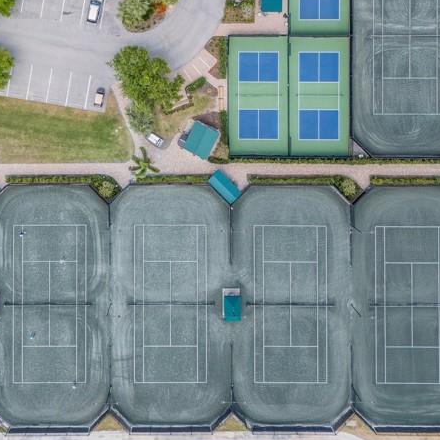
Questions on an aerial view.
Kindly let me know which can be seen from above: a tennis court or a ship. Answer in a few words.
tennis court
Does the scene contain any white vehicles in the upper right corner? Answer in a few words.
No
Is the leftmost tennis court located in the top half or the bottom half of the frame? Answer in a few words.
bottom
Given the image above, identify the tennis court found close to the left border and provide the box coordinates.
[0,186,110,427]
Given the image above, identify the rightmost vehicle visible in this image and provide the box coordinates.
[143,130,166,150]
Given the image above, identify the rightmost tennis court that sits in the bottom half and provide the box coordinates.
[351,187,440,427]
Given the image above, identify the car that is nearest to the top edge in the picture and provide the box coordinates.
[86,0,102,23]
